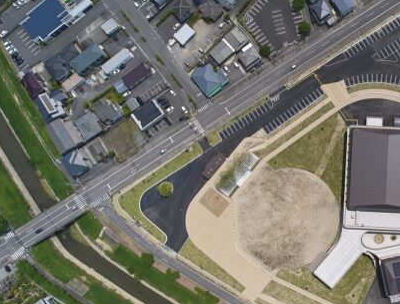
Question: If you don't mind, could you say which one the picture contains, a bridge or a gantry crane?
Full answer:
This aerial view contains a bridge.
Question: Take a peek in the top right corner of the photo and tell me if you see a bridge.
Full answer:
No, looking in the top right corner of the photo, there is no bridge.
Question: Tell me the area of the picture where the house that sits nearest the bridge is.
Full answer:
The house that sits nearest the bridge sits in the left section of the image.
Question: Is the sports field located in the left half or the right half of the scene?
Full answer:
The sports field sits on the right side.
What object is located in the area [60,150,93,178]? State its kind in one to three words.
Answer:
house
